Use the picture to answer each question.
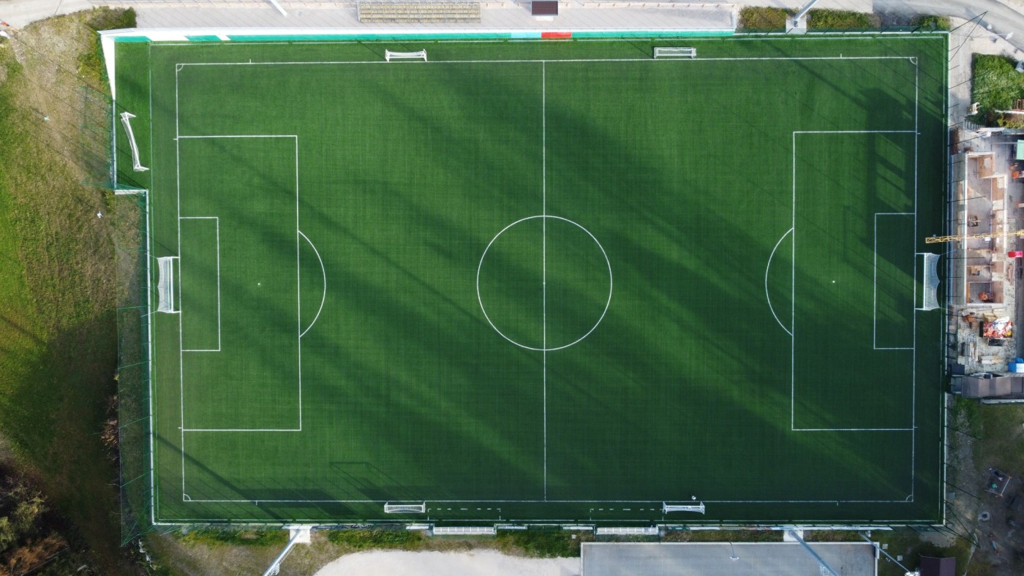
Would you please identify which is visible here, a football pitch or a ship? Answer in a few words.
football pitch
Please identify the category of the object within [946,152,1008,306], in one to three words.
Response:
building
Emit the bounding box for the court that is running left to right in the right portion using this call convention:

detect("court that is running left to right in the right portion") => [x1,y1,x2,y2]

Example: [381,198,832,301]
[581,541,879,576]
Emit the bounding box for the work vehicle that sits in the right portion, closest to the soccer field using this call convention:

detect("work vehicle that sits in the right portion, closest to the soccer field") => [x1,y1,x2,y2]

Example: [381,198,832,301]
[964,102,984,117]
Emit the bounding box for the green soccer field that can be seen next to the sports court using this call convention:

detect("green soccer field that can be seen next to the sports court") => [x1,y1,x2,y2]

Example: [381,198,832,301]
[115,34,947,524]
